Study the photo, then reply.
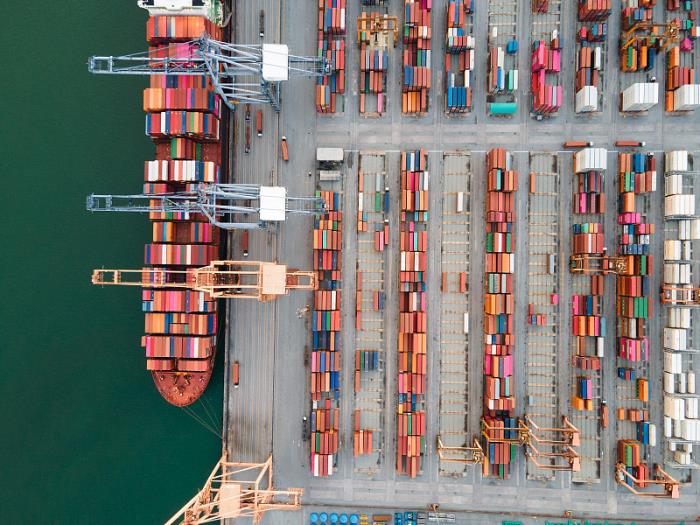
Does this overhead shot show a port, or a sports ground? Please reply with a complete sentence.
The area seen from above is a port.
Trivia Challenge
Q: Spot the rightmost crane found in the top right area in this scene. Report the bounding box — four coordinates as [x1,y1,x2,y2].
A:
[619,21,681,55]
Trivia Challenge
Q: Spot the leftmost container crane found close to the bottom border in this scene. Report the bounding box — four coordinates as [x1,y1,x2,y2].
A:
[162,447,302,525]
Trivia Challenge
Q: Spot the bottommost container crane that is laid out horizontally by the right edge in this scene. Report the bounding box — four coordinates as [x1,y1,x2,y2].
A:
[617,465,682,500]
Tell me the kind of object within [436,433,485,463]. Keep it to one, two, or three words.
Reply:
container crane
